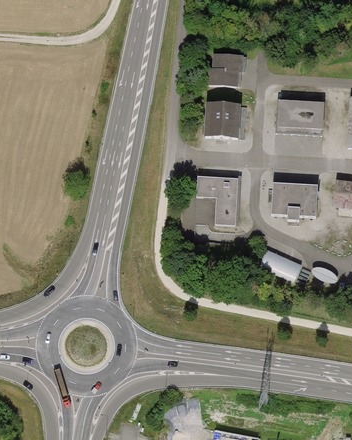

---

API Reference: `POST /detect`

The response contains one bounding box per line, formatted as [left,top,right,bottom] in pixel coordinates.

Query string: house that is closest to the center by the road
[196,176,240,228]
